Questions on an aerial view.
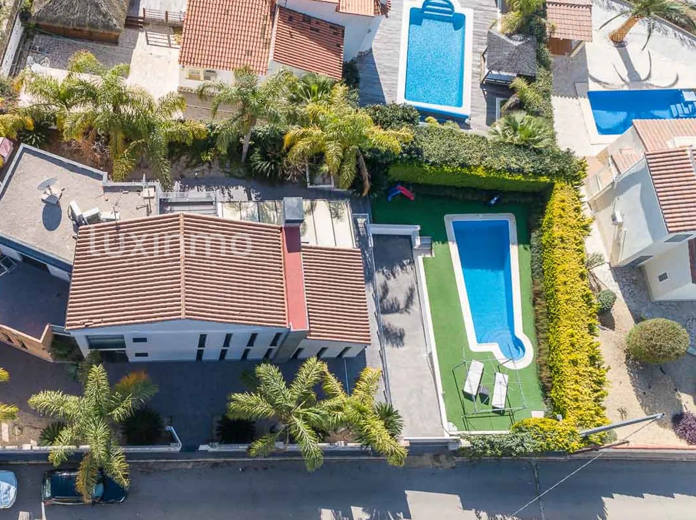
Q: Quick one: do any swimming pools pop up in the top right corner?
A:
Yes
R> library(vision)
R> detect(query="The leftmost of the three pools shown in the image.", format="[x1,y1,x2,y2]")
[400,0,471,113]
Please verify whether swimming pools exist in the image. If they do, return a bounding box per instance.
[579,83,696,141]
[400,0,471,113]
[446,215,532,368]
